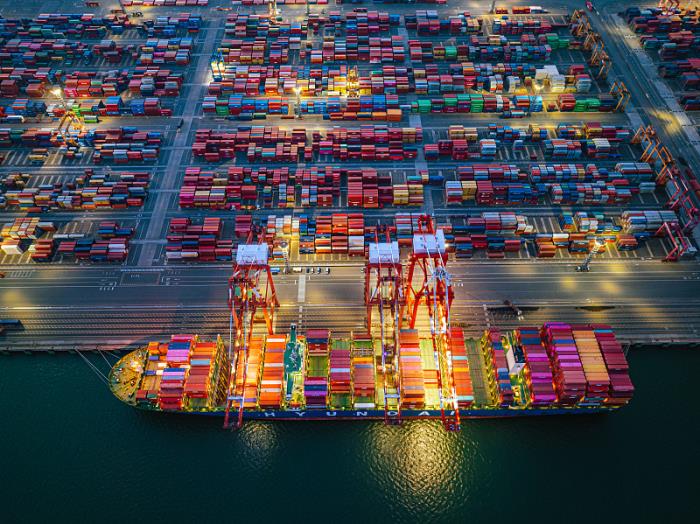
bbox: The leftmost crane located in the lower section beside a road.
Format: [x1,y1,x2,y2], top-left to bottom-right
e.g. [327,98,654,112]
[221,221,286,430]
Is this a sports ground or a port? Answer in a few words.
port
